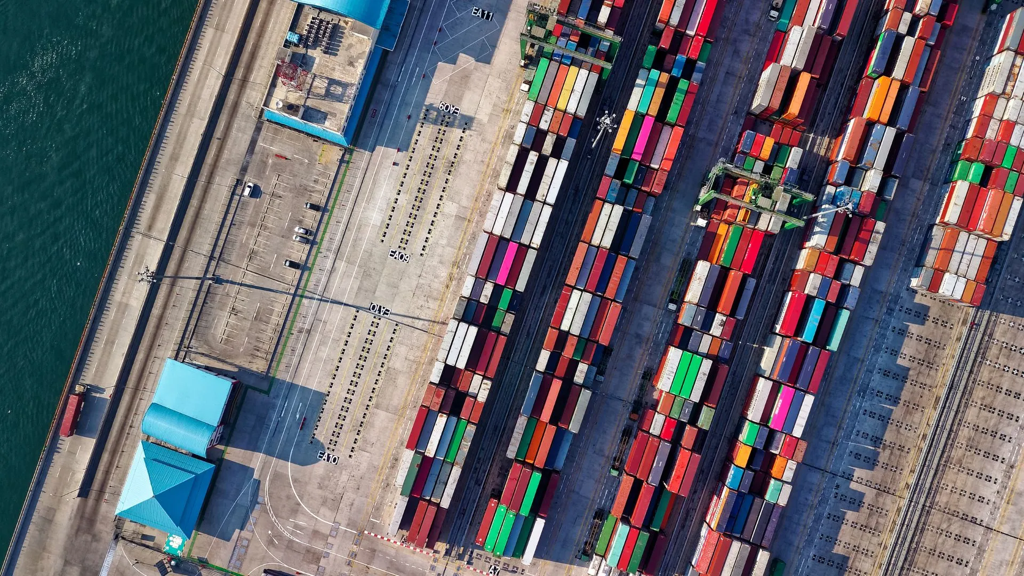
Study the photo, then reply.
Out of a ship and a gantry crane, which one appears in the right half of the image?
gantry crane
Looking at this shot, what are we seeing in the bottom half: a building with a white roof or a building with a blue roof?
building with a blue roof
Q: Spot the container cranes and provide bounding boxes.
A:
[514,1,628,97]
[689,156,821,236]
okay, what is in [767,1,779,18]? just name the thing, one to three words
vehicle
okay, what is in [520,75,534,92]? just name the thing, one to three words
vehicle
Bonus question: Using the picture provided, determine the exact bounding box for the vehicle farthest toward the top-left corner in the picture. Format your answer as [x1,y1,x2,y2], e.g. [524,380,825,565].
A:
[243,181,255,199]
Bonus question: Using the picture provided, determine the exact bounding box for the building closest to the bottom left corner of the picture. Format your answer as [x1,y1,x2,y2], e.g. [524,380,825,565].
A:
[115,440,218,540]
